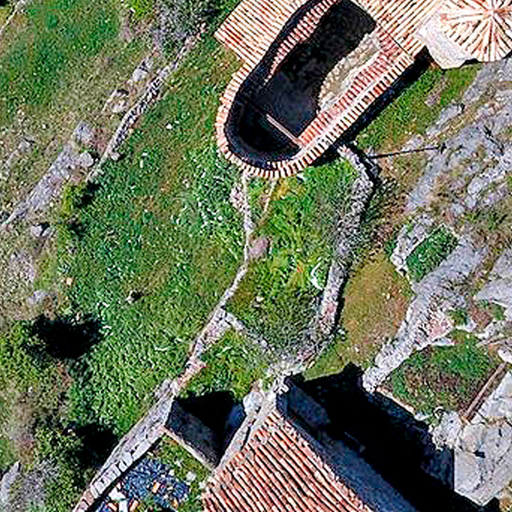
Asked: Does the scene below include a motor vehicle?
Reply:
No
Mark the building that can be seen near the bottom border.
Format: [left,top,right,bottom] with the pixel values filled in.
[202,365,433,512]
